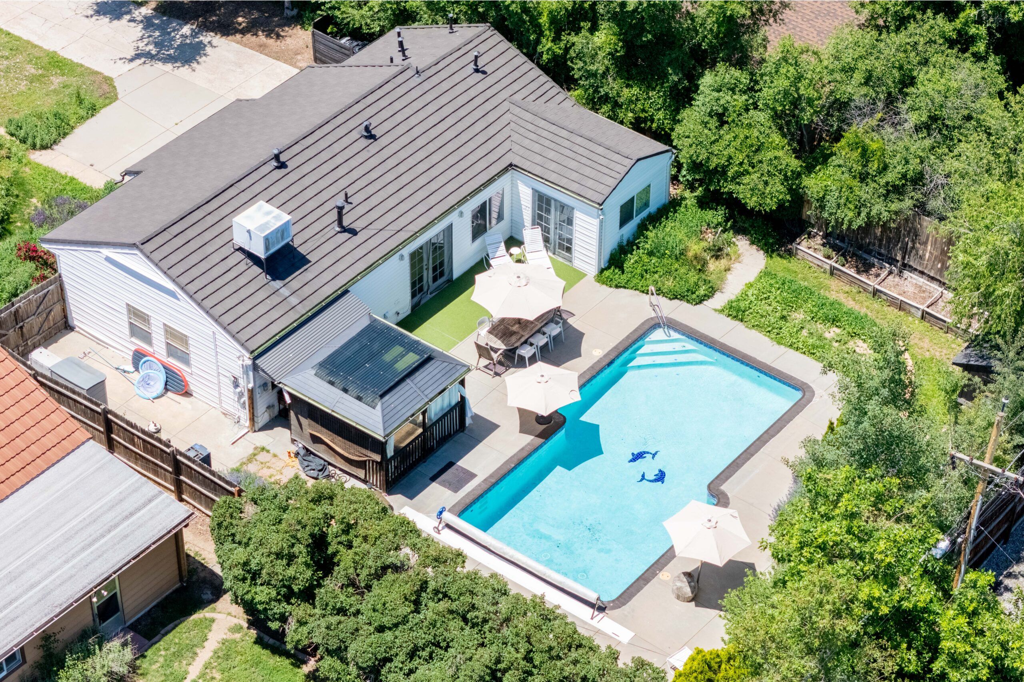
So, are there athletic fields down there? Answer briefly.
No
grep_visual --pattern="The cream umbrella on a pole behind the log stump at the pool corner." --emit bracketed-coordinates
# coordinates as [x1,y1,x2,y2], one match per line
[656,502,751,586]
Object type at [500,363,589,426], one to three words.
umbrella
